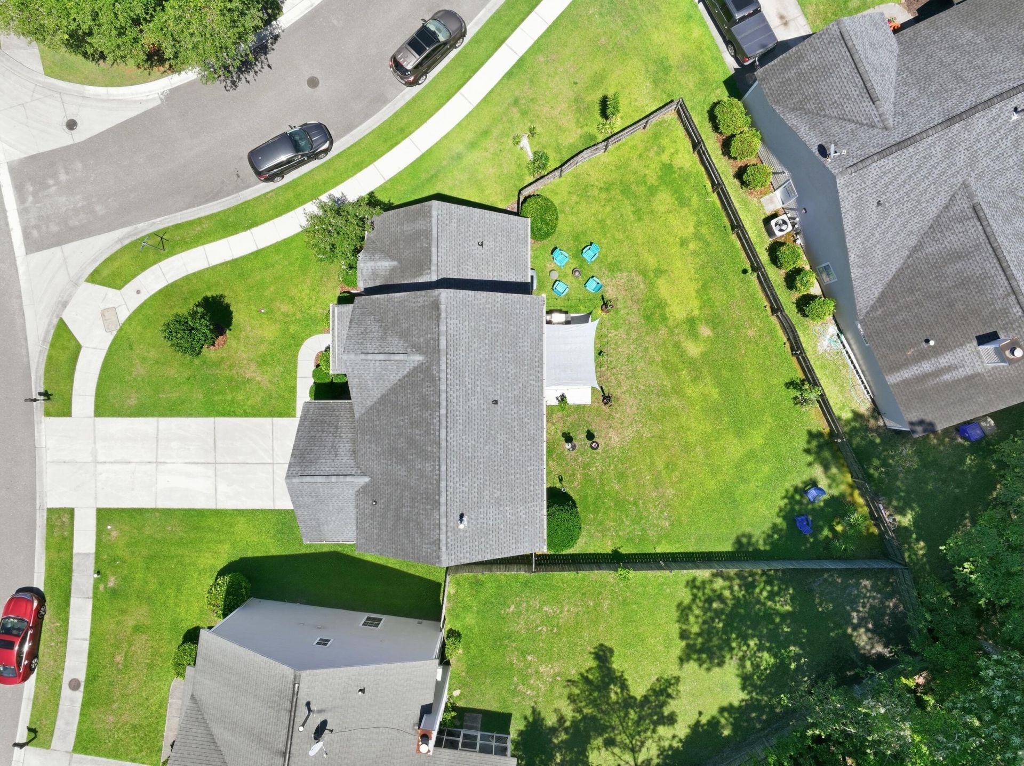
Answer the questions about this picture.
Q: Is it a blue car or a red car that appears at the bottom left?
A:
red car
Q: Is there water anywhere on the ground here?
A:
No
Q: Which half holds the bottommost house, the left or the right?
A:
left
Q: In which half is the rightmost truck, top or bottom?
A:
top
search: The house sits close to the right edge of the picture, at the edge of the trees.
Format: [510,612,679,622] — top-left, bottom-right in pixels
[742,0,1024,437]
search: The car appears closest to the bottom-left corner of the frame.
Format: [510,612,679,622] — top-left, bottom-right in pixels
[0,594,47,682]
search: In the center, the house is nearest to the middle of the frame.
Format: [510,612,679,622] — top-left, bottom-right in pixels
[285,200,548,567]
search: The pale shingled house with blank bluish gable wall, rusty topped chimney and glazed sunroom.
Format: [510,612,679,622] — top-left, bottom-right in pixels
[167,602,516,766]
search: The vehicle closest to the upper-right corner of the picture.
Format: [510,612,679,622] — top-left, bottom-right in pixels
[697,0,776,68]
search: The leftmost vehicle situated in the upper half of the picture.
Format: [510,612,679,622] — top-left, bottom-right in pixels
[247,122,333,184]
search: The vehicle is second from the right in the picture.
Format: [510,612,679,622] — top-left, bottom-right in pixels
[392,11,467,85]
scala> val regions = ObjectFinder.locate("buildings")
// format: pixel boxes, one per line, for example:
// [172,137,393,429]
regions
[167,602,516,766]
[742,0,1024,437]
[285,200,548,567]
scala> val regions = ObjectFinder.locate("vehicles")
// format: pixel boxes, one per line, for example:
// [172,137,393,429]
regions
[392,11,467,85]
[247,122,333,184]
[697,0,776,68]
[0,594,47,682]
